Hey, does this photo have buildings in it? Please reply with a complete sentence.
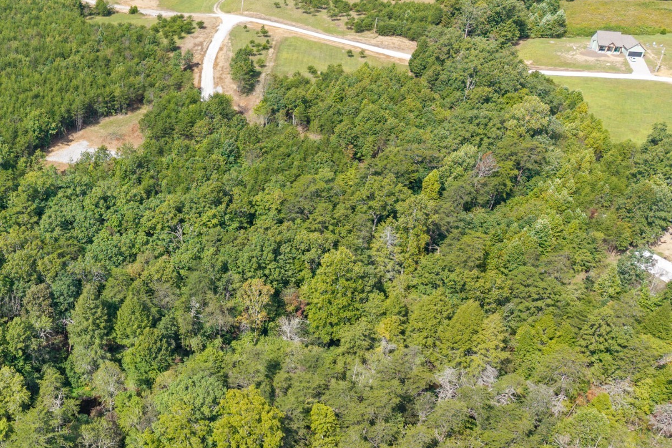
Yes, I can see a building in this picture.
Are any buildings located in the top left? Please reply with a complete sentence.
No, the scene shows no building in the top left.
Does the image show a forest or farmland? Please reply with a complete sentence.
The area seen from above is a forest.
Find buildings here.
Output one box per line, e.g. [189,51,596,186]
[592,31,646,59]
[632,251,672,285]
